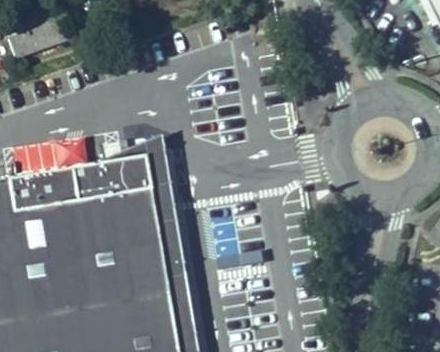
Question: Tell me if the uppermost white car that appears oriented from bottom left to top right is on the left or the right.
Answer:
right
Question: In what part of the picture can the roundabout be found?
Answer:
right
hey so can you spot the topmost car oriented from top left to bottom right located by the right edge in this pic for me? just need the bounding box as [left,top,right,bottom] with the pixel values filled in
[402,9,422,33]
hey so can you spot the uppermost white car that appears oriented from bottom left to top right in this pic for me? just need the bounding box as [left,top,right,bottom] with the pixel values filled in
[375,10,396,32]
